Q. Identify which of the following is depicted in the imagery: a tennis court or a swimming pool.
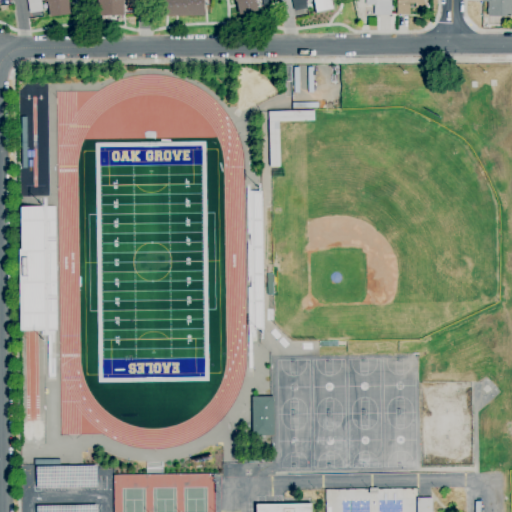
tennis court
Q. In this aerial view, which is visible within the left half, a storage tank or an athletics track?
athletics track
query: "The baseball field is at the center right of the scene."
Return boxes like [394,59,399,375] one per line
[273,107,500,339]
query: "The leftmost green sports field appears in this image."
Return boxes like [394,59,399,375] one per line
[79,138,227,428]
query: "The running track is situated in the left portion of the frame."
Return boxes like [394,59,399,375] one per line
[58,74,248,449]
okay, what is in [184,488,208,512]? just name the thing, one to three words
tennis court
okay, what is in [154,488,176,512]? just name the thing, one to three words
tennis court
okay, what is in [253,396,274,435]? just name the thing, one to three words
building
